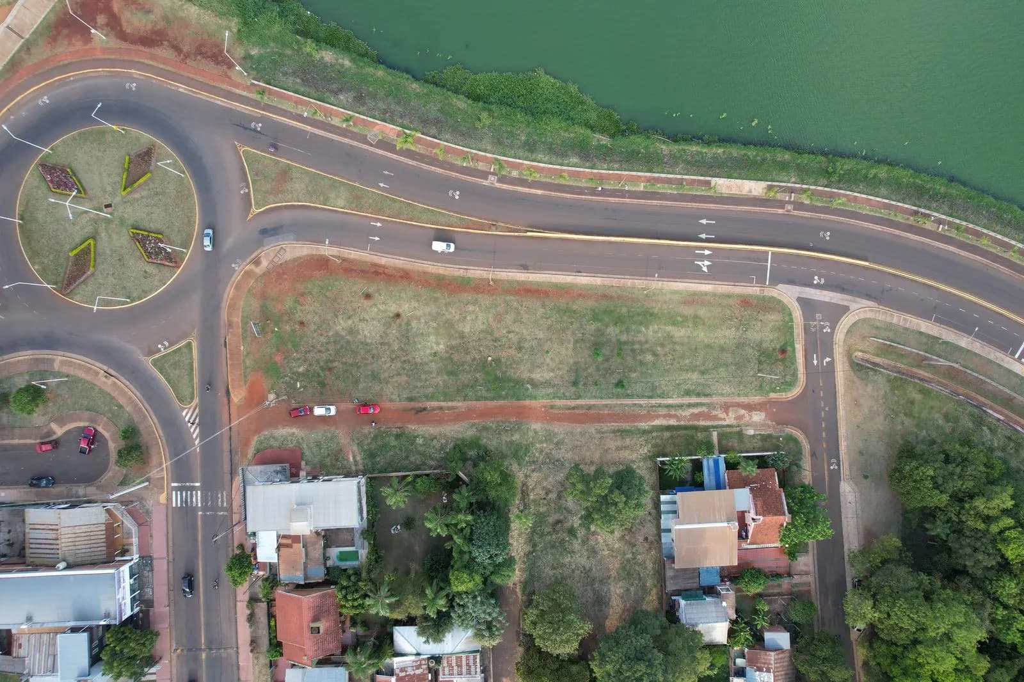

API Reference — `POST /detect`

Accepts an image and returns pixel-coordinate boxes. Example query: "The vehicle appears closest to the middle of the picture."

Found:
[430,240,456,252]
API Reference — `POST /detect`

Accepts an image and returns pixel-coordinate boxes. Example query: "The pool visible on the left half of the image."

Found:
[335,549,360,563]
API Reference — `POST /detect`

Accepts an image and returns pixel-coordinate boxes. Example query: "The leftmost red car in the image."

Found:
[32,440,58,453]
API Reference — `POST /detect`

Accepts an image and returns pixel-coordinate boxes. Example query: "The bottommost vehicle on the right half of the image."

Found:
[850,621,869,643]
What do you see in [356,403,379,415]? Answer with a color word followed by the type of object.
red vehicle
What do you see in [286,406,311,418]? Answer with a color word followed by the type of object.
red vehicle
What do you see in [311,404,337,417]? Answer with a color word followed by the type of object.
white vehicle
